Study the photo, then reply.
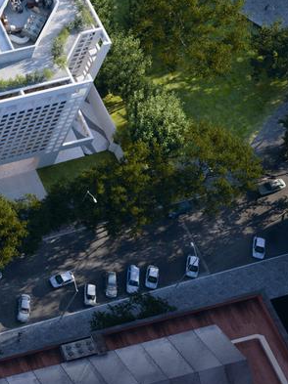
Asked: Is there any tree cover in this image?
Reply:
Yes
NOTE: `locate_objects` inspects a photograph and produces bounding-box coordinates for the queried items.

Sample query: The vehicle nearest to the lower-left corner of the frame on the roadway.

[15,293,33,323]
